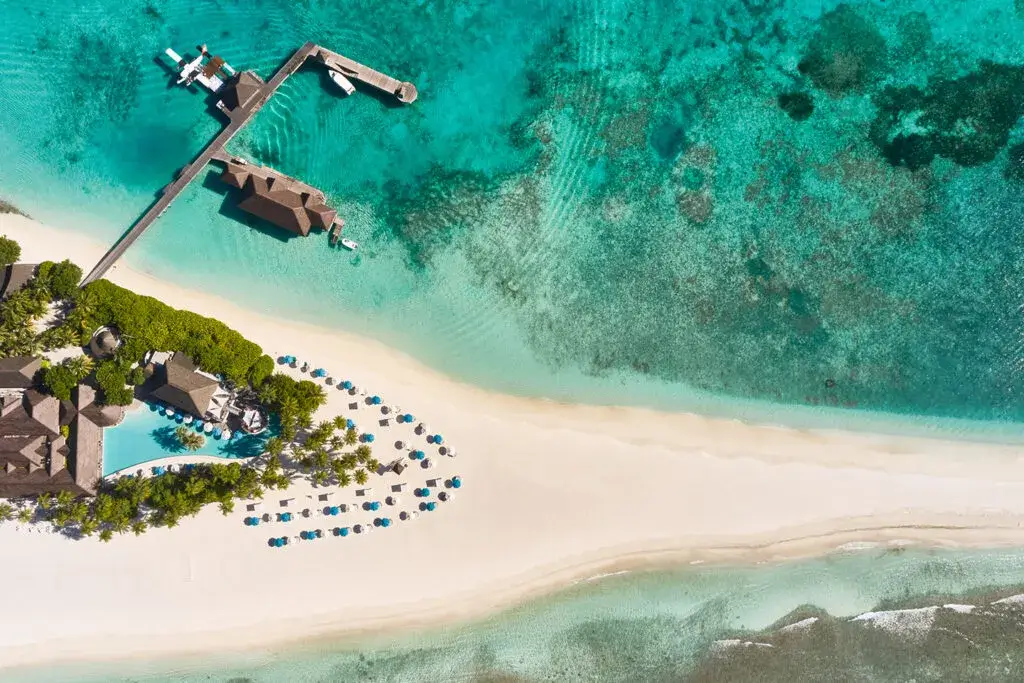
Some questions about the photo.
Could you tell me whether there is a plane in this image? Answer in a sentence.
Yes, the picture does show a plane.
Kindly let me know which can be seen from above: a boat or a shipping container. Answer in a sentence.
Visible in the photo is a boat.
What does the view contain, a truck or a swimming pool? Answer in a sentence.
Of the two, only a swimming pool appears.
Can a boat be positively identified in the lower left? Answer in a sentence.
No, in the lower left there is no boat.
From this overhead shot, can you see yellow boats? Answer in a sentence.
No, the photo shows no yellow boat.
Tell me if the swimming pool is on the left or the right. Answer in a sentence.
The swimming pool sits on the left side.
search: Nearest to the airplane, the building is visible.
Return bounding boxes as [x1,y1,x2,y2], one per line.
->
[212,70,268,117]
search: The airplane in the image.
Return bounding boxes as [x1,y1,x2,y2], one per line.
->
[165,40,214,89]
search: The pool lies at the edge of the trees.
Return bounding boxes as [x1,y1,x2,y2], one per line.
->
[105,402,285,477]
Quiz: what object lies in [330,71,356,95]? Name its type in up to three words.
boat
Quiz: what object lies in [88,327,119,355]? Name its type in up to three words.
shed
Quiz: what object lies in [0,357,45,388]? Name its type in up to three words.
house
